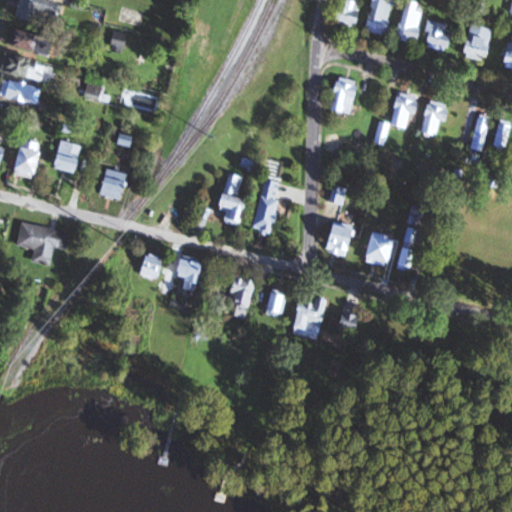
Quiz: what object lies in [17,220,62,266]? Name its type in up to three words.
house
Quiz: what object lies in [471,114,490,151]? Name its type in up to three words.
house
